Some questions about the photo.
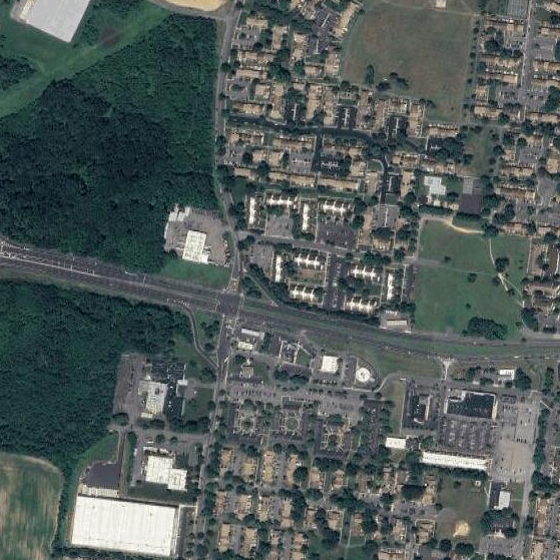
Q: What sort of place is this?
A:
residential area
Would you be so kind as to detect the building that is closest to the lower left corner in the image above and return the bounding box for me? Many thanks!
[71,495,177,556]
